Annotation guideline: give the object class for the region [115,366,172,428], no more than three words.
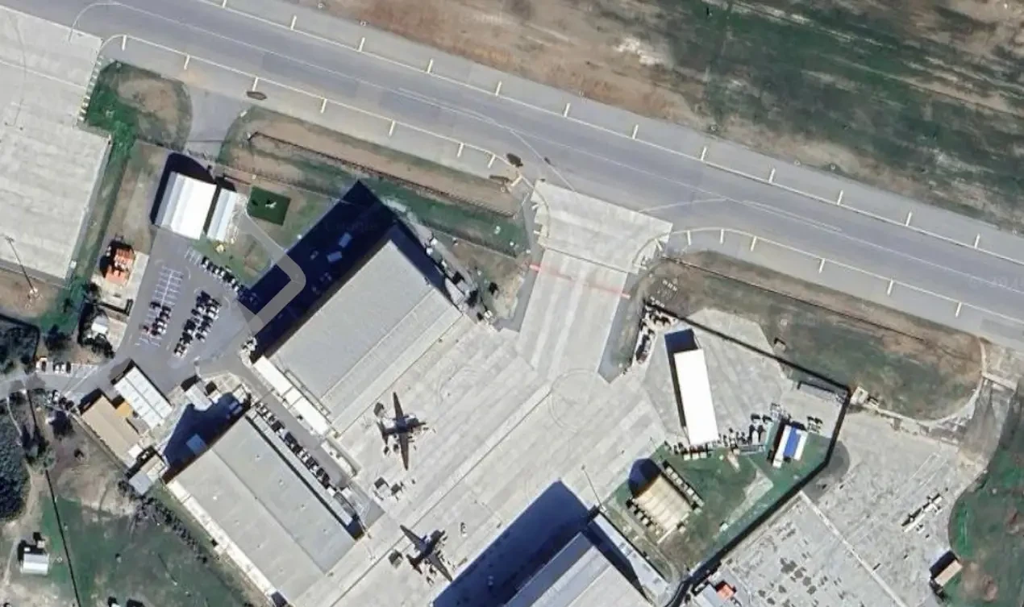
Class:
building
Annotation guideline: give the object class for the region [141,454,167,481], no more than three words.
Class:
building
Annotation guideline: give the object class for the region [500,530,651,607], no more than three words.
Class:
hangar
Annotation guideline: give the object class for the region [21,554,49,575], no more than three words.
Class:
house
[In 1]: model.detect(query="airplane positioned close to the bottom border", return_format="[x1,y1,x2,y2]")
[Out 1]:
[398,526,455,580]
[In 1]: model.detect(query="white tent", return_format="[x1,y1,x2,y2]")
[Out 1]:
[775,425,807,463]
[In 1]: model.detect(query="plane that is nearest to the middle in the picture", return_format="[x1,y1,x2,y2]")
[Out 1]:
[379,393,427,468]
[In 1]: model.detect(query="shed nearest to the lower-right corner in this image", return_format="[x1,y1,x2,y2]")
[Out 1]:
[934,561,962,586]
